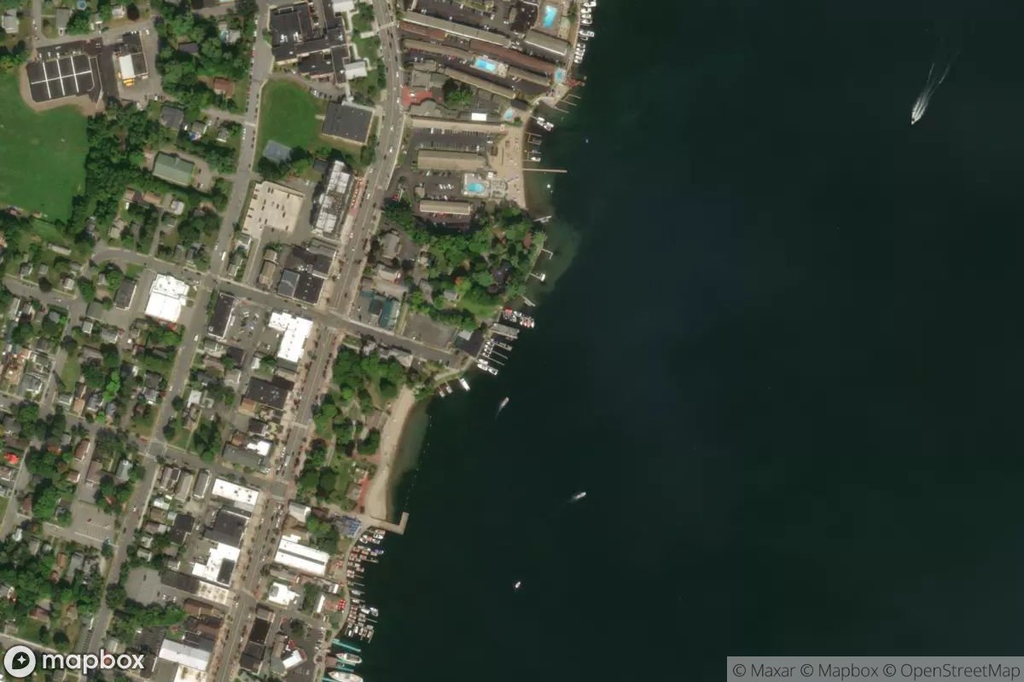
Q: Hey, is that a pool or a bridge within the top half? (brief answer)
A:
pool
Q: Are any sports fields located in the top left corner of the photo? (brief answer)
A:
Yes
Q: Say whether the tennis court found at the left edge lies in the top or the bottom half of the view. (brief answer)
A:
top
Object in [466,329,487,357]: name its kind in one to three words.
building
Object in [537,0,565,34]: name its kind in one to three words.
swimming pool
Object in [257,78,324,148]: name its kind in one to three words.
sports field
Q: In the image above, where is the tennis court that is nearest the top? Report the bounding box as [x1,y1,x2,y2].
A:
[27,54,94,101]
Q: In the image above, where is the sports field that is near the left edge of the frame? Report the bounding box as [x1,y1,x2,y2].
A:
[0,73,88,223]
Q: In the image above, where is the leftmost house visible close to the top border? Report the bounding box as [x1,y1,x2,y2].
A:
[2,7,20,35]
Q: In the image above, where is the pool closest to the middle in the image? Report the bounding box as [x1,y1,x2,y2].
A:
[464,174,507,197]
